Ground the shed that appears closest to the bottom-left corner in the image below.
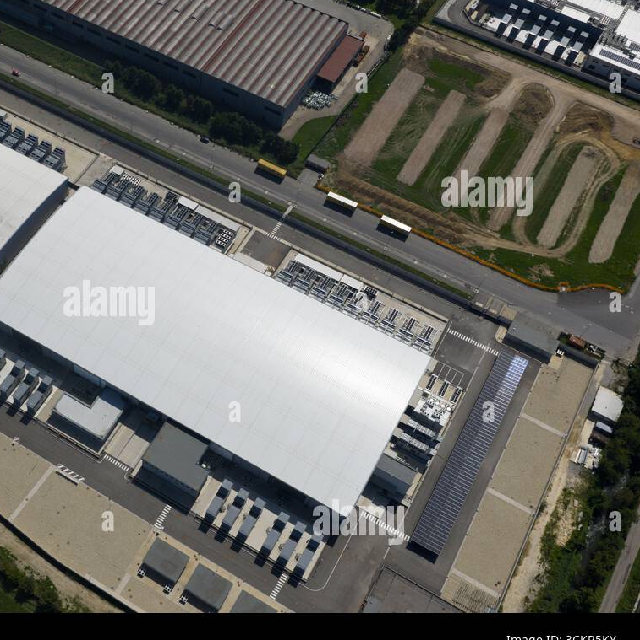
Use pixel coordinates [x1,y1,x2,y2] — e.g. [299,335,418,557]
[142,538,191,585]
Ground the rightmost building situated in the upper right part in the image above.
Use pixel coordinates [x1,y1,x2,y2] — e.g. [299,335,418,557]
[582,30,640,89]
